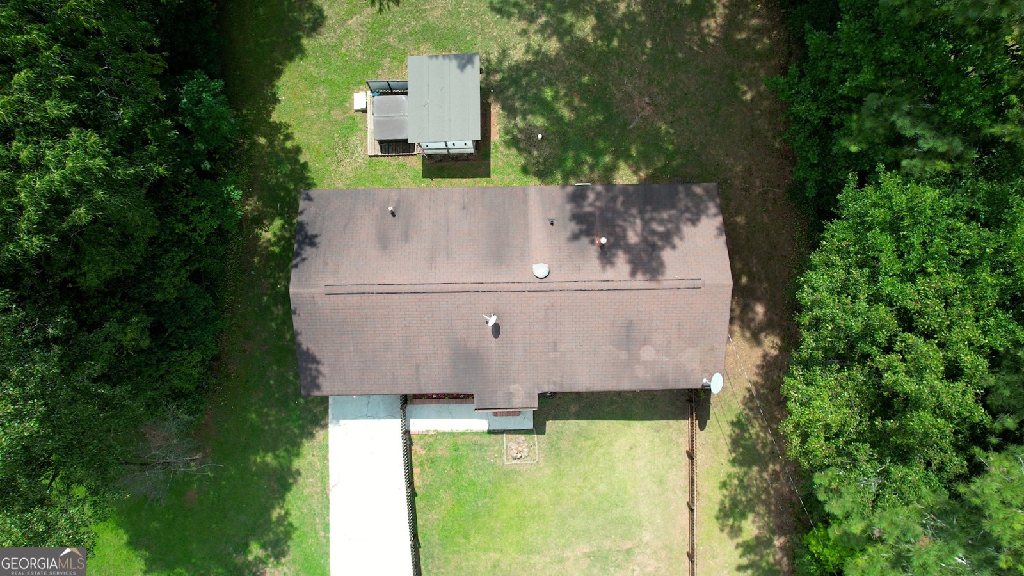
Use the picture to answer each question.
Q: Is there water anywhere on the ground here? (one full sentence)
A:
No, there's no water in this view.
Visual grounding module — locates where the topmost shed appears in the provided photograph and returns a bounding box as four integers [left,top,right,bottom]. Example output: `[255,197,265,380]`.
[407,53,481,155]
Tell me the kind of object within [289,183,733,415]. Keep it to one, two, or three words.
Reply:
house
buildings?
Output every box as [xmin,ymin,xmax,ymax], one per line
[289,183,733,415]
[407,53,481,155]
